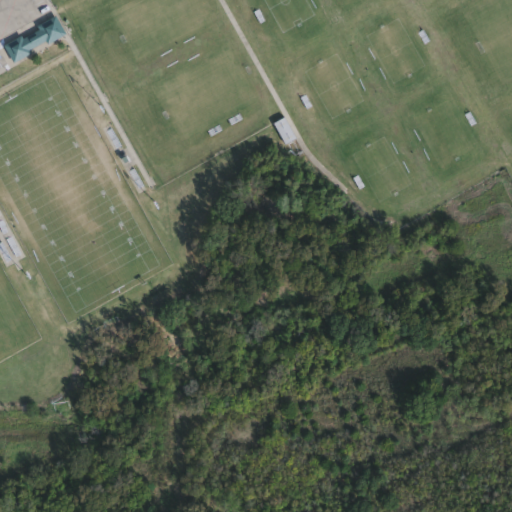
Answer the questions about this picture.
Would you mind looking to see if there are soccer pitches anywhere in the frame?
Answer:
Yes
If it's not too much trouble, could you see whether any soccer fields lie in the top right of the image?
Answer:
Yes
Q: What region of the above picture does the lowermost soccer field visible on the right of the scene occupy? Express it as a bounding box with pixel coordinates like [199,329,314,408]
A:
[353,136,412,202]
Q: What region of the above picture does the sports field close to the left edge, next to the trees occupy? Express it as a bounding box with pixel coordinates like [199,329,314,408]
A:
[0,71,164,316]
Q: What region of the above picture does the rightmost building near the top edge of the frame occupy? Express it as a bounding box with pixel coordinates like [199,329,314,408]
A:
[4,17,64,63]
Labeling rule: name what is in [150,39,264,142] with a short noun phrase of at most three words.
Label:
soccer field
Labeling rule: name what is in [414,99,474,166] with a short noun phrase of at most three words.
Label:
soccer field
